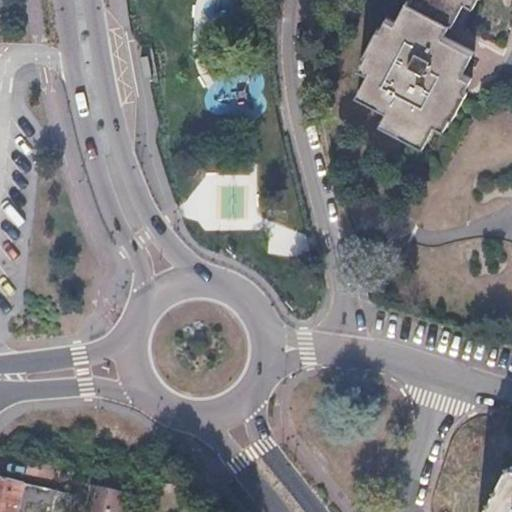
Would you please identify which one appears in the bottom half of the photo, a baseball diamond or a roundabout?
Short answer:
roundabout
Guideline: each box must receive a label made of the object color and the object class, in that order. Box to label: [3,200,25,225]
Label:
white vehicle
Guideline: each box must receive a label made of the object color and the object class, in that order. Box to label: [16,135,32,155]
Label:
white car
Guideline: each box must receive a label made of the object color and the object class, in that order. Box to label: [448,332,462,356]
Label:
white vehicle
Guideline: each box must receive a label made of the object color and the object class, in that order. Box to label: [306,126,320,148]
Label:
white car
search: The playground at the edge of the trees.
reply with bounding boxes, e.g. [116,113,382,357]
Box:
[205,74,268,118]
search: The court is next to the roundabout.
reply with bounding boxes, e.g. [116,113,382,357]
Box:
[180,164,264,230]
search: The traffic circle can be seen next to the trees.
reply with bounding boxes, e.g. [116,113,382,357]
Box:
[111,261,283,437]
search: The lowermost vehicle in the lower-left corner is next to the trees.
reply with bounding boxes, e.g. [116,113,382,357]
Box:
[6,462,27,474]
